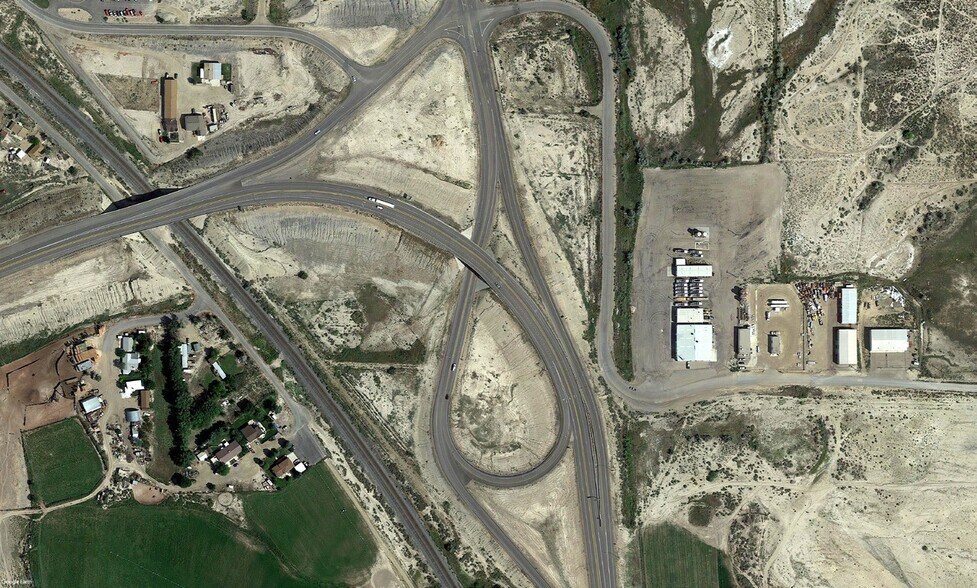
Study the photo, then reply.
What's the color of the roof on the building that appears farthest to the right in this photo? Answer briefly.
white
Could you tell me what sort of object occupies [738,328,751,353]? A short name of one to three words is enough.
building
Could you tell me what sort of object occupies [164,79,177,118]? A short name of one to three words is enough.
shed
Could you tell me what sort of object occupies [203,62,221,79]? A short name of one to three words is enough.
house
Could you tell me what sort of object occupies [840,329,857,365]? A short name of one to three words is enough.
building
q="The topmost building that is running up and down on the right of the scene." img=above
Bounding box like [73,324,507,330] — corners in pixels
[842,288,858,324]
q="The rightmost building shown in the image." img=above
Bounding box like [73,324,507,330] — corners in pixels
[871,329,909,352]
